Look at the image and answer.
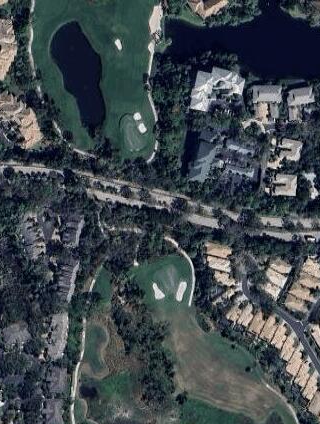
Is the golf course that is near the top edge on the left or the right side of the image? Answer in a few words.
left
